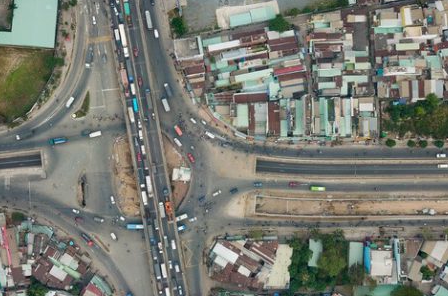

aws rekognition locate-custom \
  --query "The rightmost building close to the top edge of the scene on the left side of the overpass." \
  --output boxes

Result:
[14,0,59,51]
